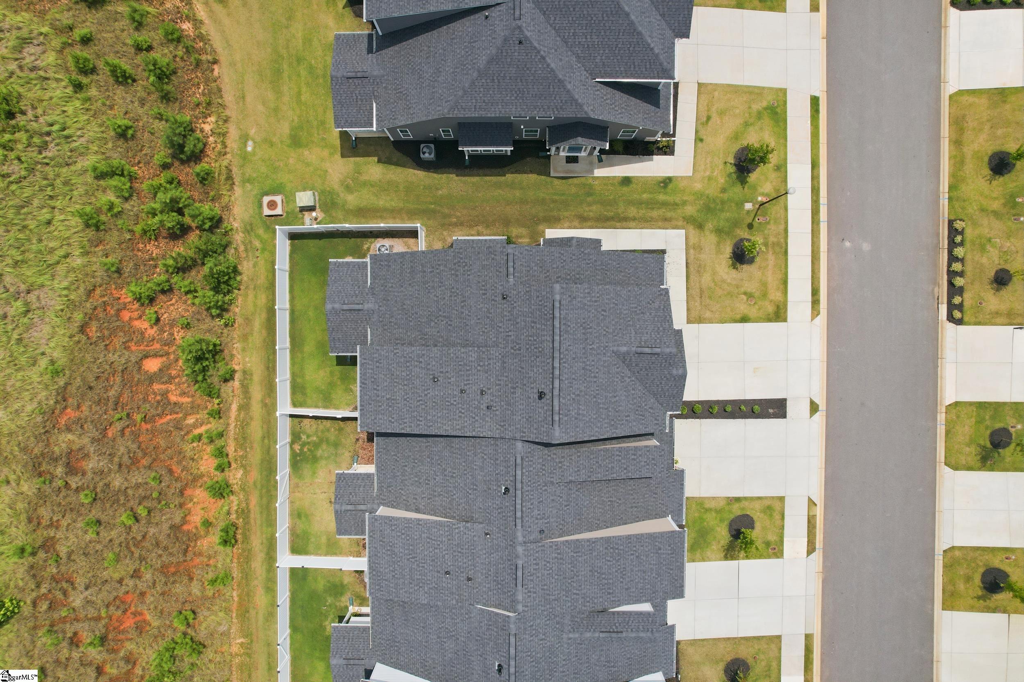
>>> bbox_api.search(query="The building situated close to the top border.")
[331,0,693,160]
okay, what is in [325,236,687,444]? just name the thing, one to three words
house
